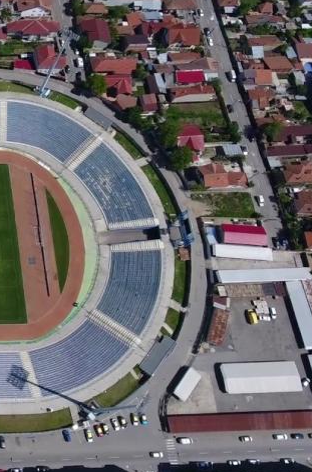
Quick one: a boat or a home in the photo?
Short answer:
home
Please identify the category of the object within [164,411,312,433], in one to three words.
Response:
building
